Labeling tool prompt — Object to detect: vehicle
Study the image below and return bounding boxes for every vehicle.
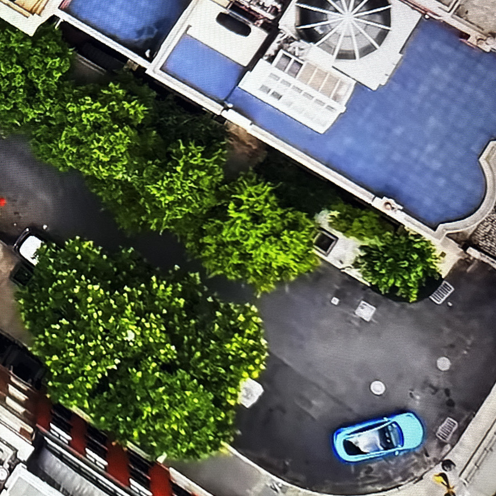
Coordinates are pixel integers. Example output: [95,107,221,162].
[5,223,74,289]
[333,414,429,466]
